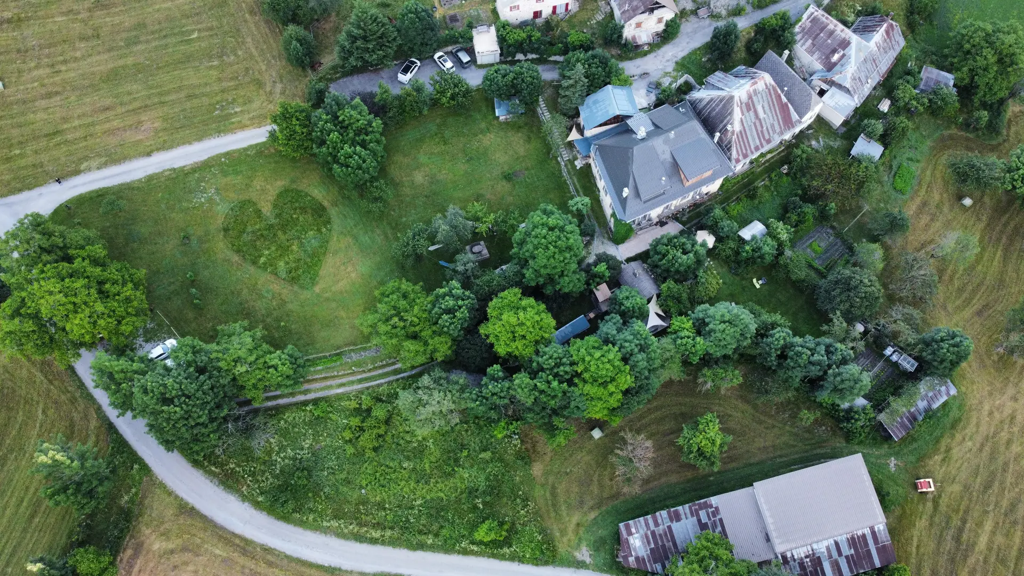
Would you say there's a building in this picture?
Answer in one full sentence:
Yes, a building appears in the view.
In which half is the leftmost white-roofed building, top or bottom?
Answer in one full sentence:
You can find the leftmost white-roofed building in the top half.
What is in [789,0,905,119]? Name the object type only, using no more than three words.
house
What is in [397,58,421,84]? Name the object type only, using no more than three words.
car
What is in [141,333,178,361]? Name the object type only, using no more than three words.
car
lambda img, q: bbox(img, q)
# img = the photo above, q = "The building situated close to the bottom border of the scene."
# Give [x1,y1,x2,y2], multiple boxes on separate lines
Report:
[616,452,895,576]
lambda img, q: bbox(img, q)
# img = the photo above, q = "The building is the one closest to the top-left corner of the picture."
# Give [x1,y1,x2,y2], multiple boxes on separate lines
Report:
[472,26,500,67]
